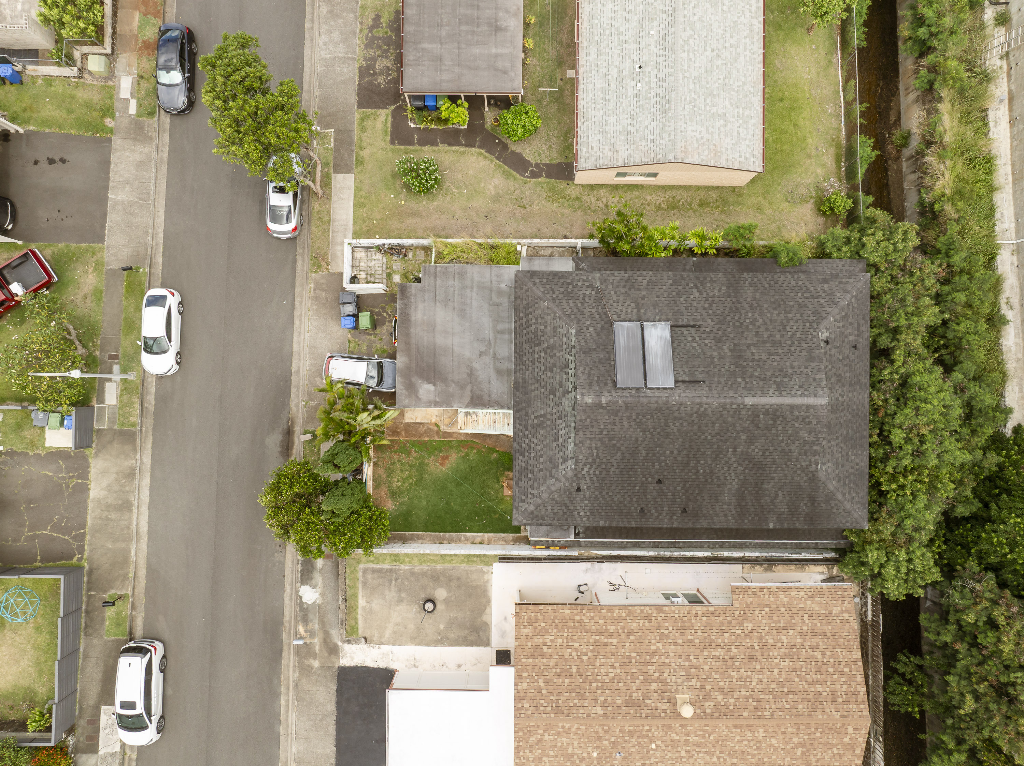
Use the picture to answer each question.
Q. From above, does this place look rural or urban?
urban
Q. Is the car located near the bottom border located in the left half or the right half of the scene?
left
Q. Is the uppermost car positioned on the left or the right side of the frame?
left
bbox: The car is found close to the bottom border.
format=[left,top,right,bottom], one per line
[106,639,160,742]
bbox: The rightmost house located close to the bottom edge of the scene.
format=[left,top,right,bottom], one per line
[515,573,871,766]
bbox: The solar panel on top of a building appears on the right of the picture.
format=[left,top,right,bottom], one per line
[597,286,705,387]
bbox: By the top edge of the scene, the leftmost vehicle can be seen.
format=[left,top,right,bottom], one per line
[148,25,195,116]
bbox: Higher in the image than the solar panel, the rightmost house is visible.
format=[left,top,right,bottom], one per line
[570,0,766,184]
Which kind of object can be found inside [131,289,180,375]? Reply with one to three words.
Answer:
car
